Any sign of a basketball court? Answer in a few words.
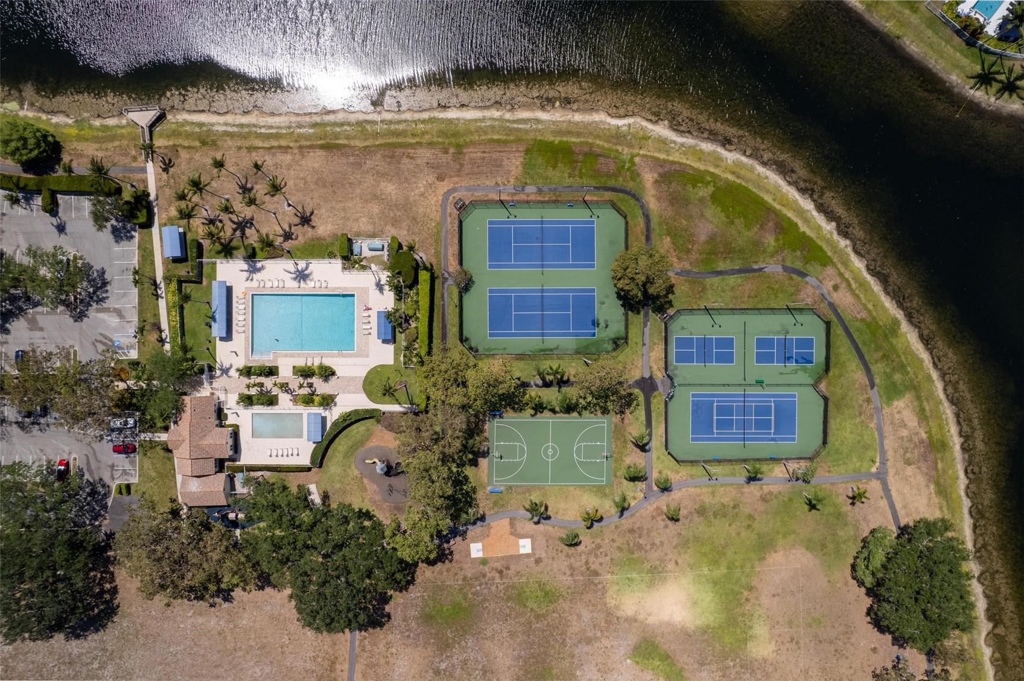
Yes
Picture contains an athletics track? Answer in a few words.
No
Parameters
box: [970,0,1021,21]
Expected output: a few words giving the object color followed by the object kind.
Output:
blue swimming pool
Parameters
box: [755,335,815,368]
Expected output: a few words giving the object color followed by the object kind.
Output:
blue sports court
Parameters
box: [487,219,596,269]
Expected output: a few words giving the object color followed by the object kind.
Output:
blue tennis court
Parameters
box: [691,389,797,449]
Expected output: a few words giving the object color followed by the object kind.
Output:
blue tennis court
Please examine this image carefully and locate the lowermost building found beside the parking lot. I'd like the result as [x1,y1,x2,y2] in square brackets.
[164,396,233,507]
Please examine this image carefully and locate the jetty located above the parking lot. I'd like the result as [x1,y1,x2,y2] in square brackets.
[122,105,166,169]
